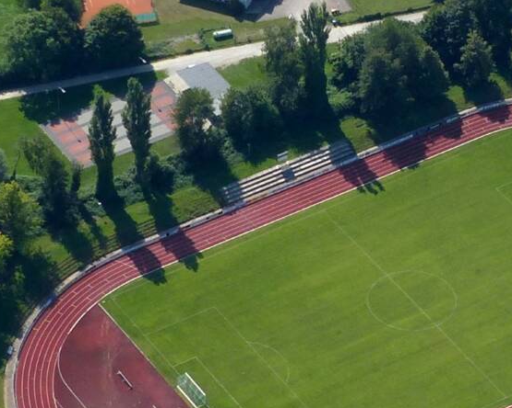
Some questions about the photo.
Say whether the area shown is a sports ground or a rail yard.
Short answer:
sports ground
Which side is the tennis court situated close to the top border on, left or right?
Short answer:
left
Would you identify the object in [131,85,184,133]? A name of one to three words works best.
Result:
sports court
